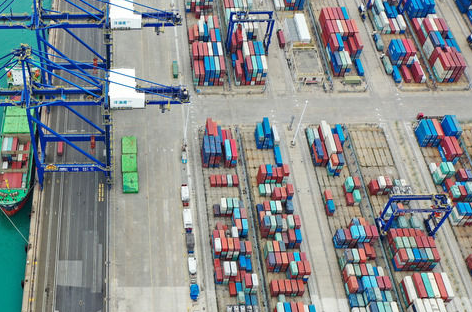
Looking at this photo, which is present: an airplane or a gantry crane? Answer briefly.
gantry crane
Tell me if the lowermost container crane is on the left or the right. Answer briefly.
right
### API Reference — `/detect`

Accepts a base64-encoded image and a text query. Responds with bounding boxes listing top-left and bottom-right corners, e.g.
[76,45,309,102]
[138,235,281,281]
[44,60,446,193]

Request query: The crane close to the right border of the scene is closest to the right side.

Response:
[373,187,458,240]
